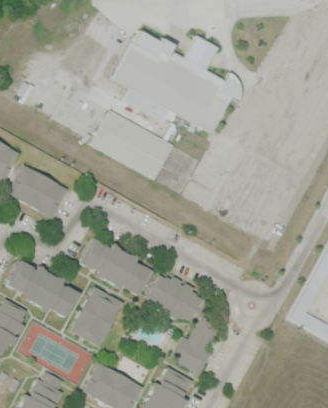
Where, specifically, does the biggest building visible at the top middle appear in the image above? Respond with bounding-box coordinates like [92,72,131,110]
[112,30,244,132]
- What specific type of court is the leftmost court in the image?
tennis court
